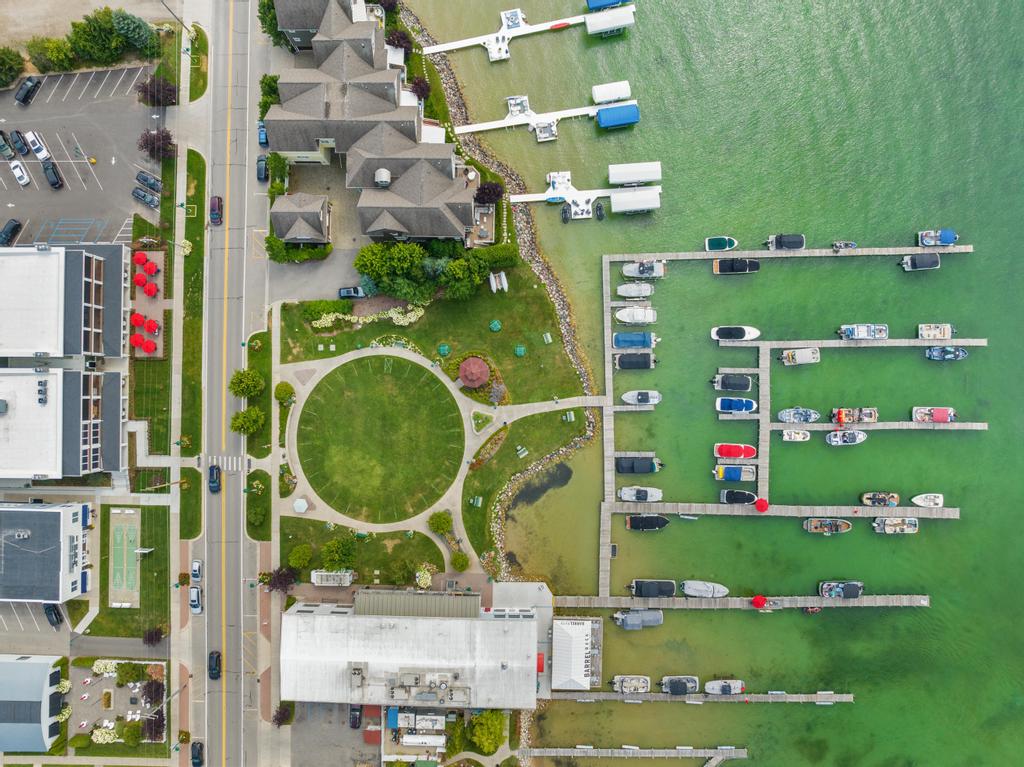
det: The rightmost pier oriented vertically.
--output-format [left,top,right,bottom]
[755,346,772,507]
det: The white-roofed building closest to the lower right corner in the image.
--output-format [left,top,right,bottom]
[551,616,604,693]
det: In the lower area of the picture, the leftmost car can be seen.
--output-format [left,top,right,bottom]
[42,602,66,629]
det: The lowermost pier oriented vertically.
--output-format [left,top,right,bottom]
[597,511,613,598]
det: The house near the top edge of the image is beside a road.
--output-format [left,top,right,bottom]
[262,0,495,245]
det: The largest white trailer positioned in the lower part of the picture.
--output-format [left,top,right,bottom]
[403,728,447,747]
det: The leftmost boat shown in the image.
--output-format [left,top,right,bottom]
[491,271,507,292]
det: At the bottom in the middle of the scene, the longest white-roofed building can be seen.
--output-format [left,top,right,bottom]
[278,586,537,708]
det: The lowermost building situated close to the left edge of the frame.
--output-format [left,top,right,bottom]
[0,651,67,753]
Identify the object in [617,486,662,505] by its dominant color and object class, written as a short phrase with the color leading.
white boat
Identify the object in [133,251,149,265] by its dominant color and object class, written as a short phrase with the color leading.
red umbrella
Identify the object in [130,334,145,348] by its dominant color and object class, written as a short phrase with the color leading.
red umbrella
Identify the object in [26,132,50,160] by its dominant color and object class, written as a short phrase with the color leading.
white car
